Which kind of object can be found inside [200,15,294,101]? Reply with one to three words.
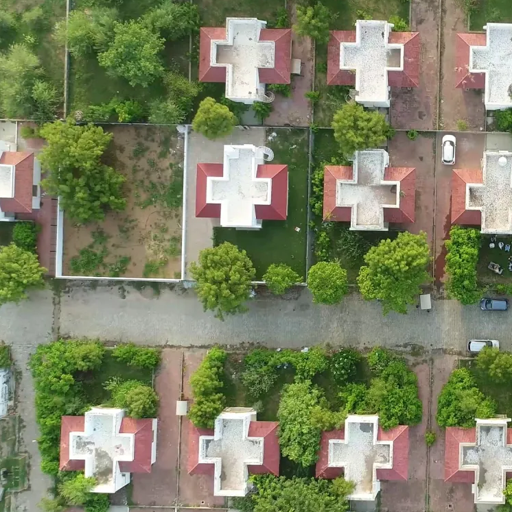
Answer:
house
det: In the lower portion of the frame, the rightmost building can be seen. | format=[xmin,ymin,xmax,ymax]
[443,414,512,501]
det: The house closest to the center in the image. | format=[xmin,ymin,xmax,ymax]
[194,145,290,231]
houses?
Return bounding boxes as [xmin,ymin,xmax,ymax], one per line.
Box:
[316,411,409,499]
[327,18,421,104]
[187,409,282,496]
[200,15,294,101]
[0,138,43,220]
[323,148,416,234]
[451,152,512,237]
[443,414,512,501]
[60,404,158,492]
[194,145,290,231]
[455,21,512,106]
